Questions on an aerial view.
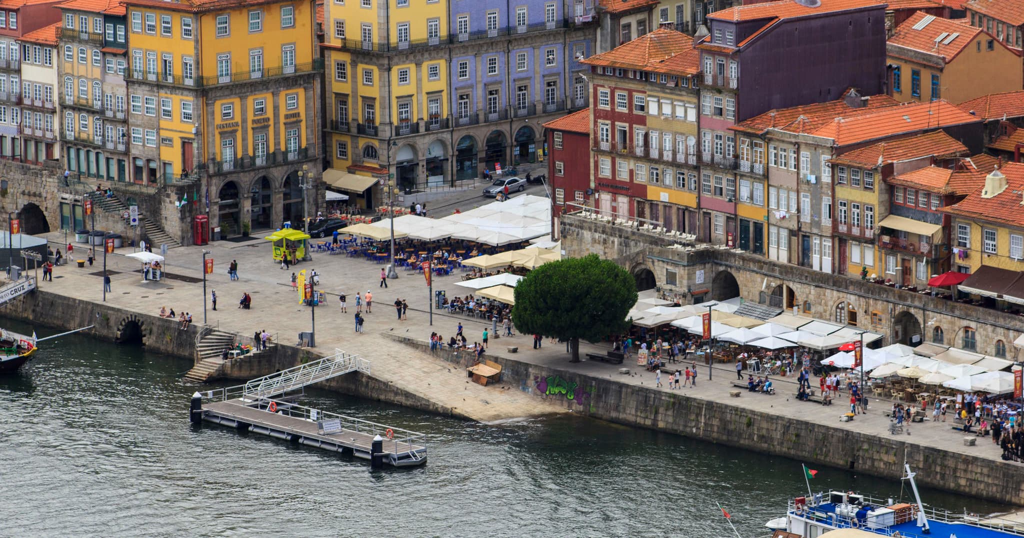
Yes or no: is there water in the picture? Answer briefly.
Yes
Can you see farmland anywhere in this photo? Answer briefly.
No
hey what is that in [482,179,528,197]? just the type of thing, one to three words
car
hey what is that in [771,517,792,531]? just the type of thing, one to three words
boat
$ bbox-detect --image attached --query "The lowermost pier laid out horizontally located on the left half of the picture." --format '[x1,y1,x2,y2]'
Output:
[202,388,429,466]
